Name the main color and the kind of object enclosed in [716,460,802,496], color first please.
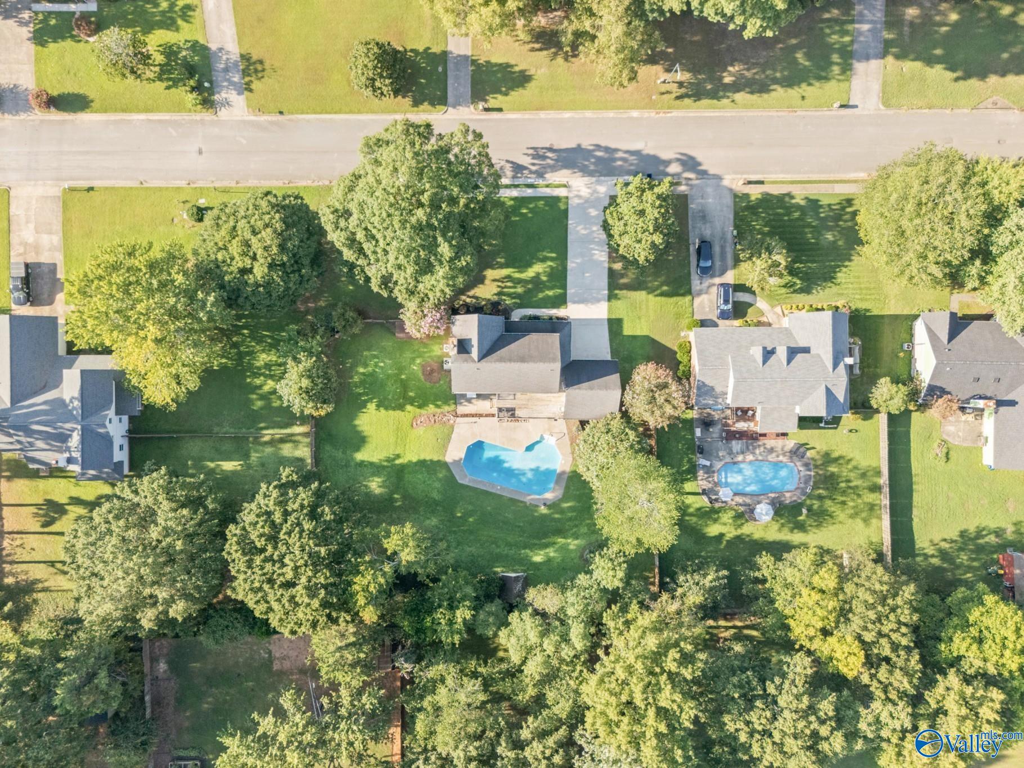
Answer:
blue swimming pool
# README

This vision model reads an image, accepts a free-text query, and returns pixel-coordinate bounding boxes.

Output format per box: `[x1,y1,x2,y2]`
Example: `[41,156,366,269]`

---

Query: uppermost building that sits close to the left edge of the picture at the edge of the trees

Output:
[0,314,148,481]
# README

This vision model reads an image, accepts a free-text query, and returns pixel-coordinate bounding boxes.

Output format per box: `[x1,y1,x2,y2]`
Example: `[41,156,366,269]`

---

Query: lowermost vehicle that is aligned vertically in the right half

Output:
[716,284,733,320]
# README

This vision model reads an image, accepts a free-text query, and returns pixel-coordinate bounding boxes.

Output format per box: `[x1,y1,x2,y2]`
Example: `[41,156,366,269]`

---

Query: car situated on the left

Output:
[9,267,33,300]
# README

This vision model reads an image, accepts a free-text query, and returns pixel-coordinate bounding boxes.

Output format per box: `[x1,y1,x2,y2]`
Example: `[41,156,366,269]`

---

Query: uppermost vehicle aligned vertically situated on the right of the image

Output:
[696,241,713,276]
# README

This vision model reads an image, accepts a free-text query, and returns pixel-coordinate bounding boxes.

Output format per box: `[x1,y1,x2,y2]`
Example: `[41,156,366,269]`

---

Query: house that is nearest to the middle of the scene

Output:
[449,314,621,419]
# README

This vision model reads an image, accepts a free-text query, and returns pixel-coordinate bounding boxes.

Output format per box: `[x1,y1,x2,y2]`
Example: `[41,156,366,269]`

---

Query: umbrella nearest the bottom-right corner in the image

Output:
[754,502,772,521]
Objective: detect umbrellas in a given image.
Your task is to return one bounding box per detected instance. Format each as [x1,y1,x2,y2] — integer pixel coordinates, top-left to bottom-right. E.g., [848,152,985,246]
[754,502,772,521]
[718,487,732,500]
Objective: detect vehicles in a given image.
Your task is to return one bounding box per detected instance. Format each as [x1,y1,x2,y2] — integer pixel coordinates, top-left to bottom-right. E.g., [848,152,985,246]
[9,267,33,300]
[716,284,733,320]
[696,241,713,276]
